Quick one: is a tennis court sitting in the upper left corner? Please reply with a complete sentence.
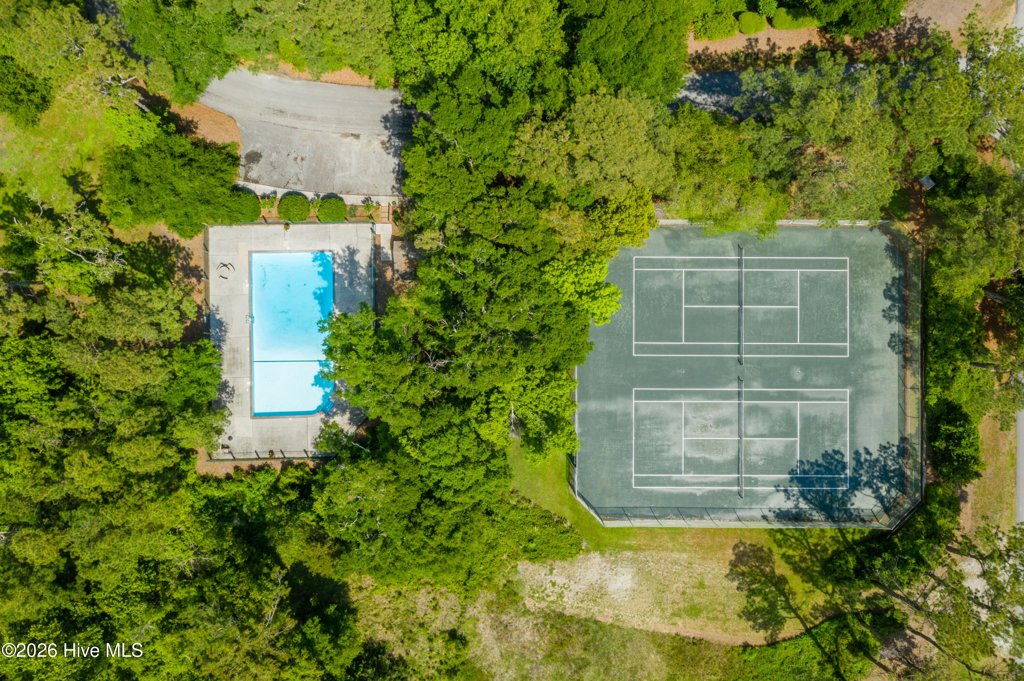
No, the scene shows no tennis court in the upper left corner.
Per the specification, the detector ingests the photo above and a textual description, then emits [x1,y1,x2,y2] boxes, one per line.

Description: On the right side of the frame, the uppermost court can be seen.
[575,225,906,374]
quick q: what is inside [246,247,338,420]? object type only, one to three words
swimming pool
